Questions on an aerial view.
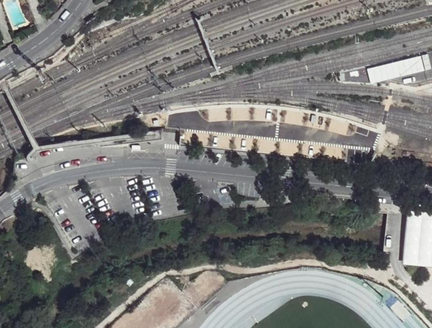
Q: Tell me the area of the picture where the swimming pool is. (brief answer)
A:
top left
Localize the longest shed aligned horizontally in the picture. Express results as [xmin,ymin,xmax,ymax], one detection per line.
[367,56,426,84]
